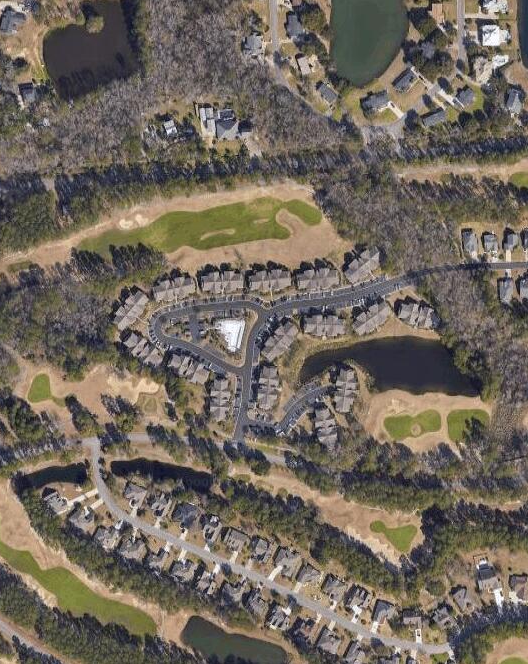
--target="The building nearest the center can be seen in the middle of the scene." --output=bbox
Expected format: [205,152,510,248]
[259,320,299,360]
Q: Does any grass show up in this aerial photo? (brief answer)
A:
Yes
